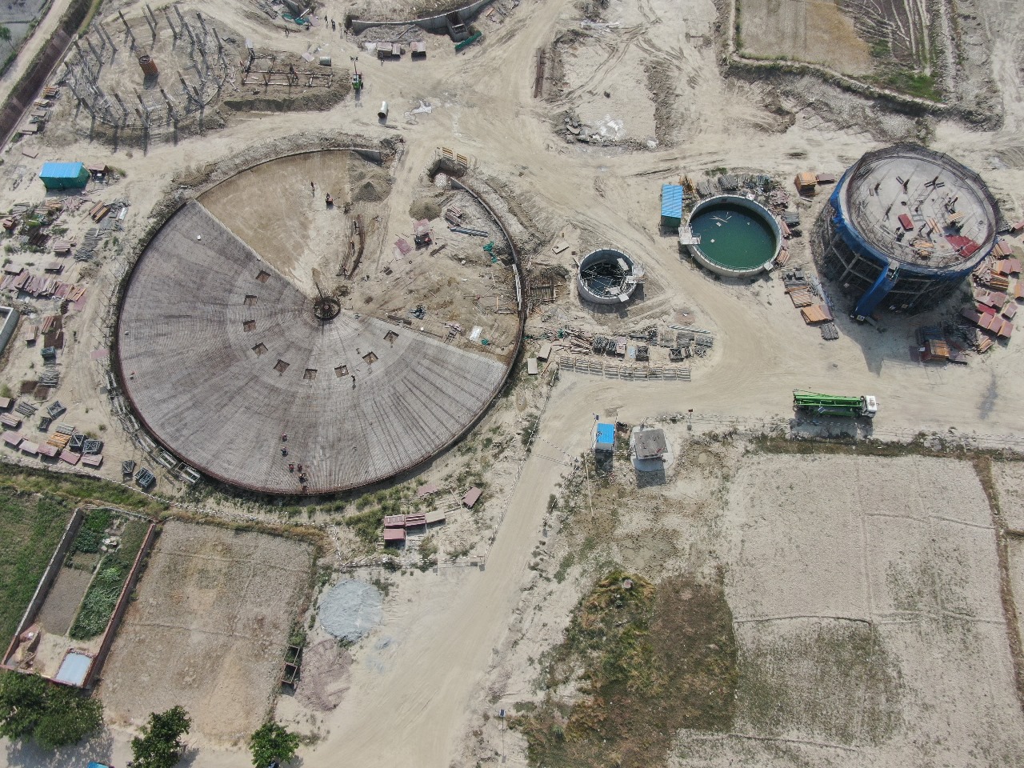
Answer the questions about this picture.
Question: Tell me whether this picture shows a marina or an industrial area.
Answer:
industrial area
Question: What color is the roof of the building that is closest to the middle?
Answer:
blue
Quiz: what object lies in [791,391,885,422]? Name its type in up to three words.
truck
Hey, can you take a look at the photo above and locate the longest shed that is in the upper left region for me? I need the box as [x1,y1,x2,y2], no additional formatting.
[33,161,96,190]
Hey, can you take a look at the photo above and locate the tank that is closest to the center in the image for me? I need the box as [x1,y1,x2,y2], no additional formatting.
[118,148,523,495]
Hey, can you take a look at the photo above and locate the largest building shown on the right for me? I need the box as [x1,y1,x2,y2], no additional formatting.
[631,425,673,470]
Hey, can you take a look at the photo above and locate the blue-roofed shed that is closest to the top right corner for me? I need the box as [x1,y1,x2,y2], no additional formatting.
[659,183,683,229]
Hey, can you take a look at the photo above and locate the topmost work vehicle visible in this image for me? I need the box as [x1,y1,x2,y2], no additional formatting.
[351,69,363,91]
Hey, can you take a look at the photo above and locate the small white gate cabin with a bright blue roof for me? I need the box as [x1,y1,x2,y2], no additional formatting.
[594,423,615,450]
